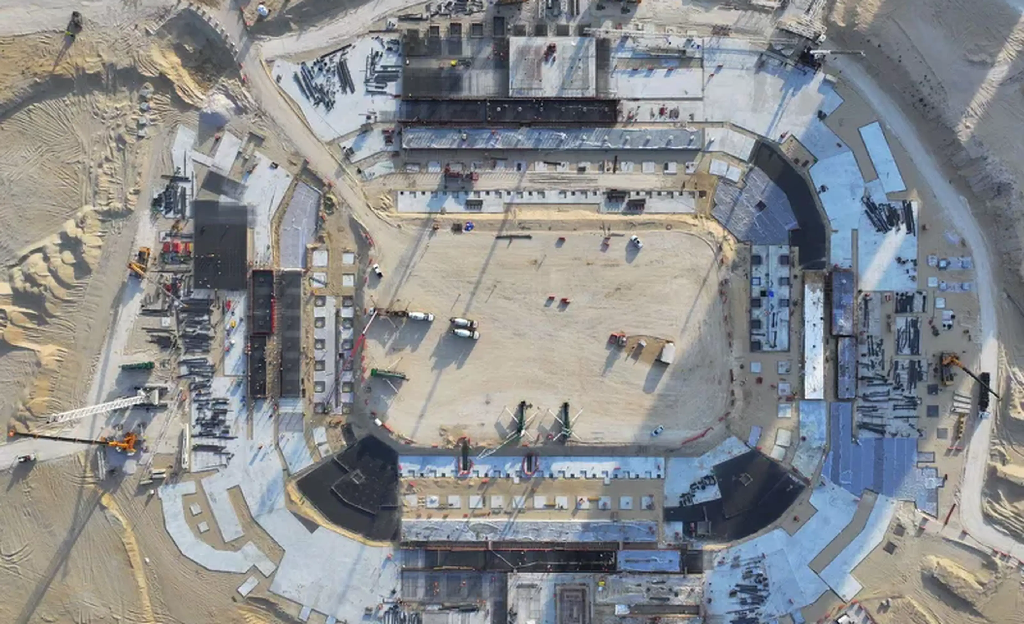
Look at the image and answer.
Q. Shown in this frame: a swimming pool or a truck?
truck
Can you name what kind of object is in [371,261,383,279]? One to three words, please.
vehicle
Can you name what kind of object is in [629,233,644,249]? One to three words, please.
car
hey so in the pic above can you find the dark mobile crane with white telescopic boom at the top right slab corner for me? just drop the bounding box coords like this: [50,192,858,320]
[792,39,868,74]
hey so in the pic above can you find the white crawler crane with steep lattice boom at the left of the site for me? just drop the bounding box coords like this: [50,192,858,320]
[46,385,171,423]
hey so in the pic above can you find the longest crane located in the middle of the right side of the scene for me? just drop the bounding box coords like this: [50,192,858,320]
[934,351,1002,400]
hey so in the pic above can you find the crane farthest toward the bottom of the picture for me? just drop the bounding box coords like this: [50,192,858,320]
[7,428,140,458]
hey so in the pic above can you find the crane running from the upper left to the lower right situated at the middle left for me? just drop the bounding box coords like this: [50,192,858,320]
[120,240,194,311]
